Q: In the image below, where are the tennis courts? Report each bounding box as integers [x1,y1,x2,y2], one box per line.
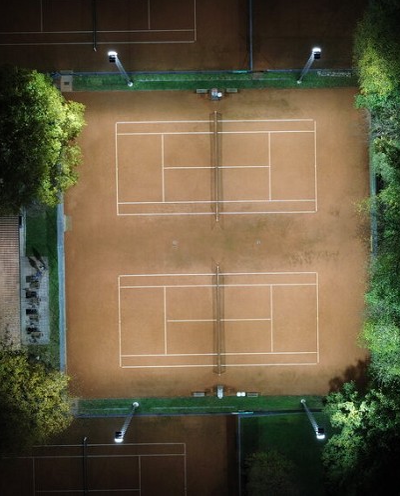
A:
[63,87,371,245]
[66,241,372,400]
[0,0,249,73]
[0,416,239,496]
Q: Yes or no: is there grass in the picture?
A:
Yes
